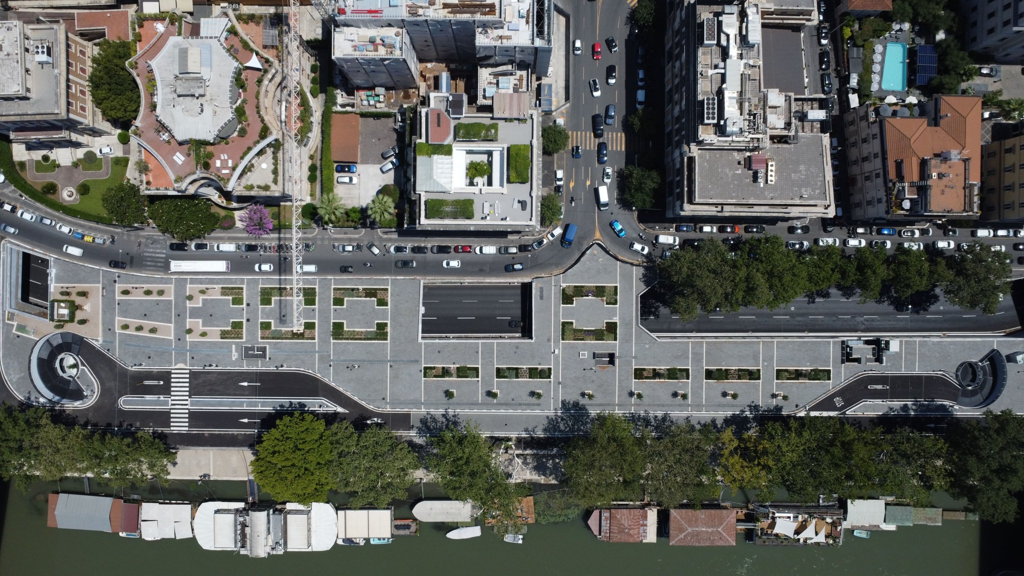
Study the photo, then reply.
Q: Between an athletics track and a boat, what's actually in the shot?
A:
boat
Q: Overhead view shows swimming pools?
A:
Yes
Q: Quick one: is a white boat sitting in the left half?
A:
Yes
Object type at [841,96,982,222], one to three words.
building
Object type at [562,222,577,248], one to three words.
vehicle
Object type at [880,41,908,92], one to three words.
swimming pool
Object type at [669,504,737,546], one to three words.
boat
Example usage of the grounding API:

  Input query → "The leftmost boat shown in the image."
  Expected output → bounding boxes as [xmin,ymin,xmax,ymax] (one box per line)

[47,493,123,532]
